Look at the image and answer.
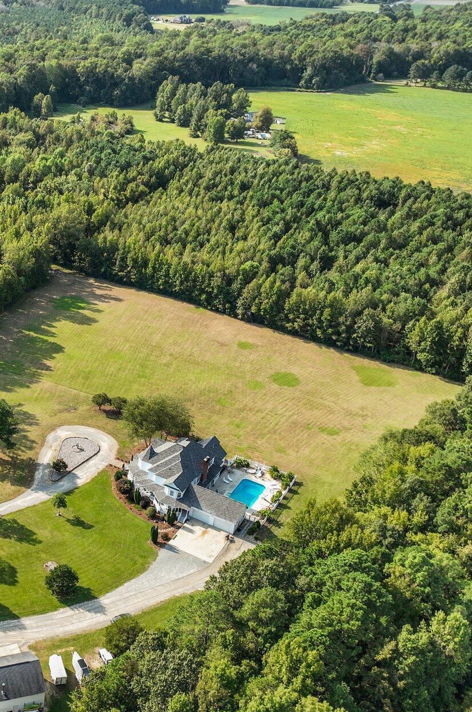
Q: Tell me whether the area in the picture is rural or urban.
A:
rural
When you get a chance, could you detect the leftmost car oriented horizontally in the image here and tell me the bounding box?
[109,609,135,625]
